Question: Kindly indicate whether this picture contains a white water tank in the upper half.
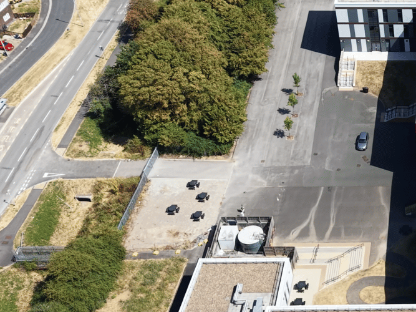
No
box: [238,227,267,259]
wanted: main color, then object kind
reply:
white water tank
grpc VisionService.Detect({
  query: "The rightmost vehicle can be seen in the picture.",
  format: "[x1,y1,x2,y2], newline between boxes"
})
[356,128,369,147]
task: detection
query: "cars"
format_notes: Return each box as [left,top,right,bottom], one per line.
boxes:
[356,128,369,147]
[0,39,14,51]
